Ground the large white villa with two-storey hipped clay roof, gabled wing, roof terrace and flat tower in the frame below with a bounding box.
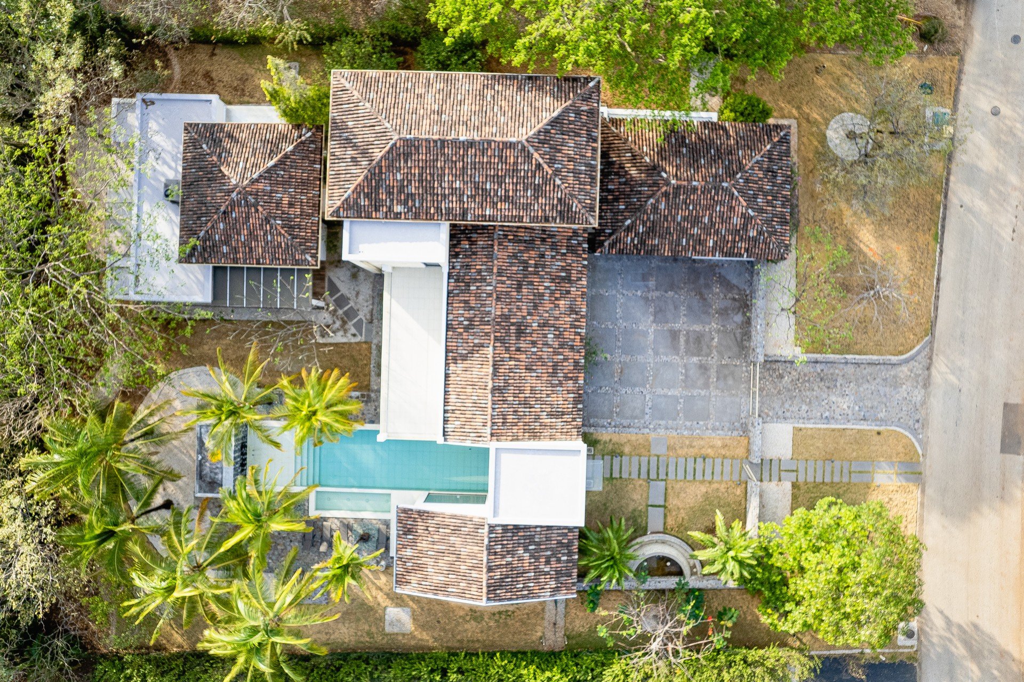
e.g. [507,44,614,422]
[324,69,604,606]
